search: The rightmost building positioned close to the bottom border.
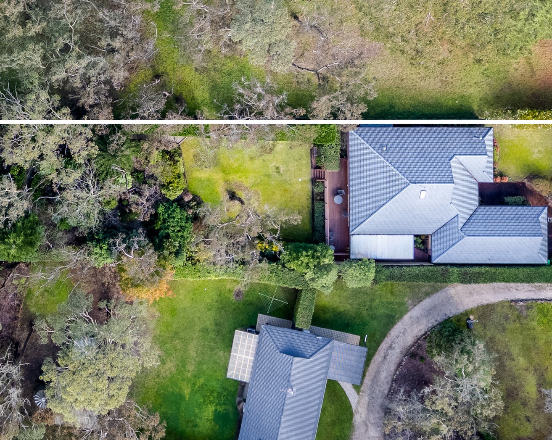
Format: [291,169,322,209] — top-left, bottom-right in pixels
[226,323,368,440]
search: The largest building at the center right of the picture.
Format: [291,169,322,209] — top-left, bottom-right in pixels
[315,127,548,264]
